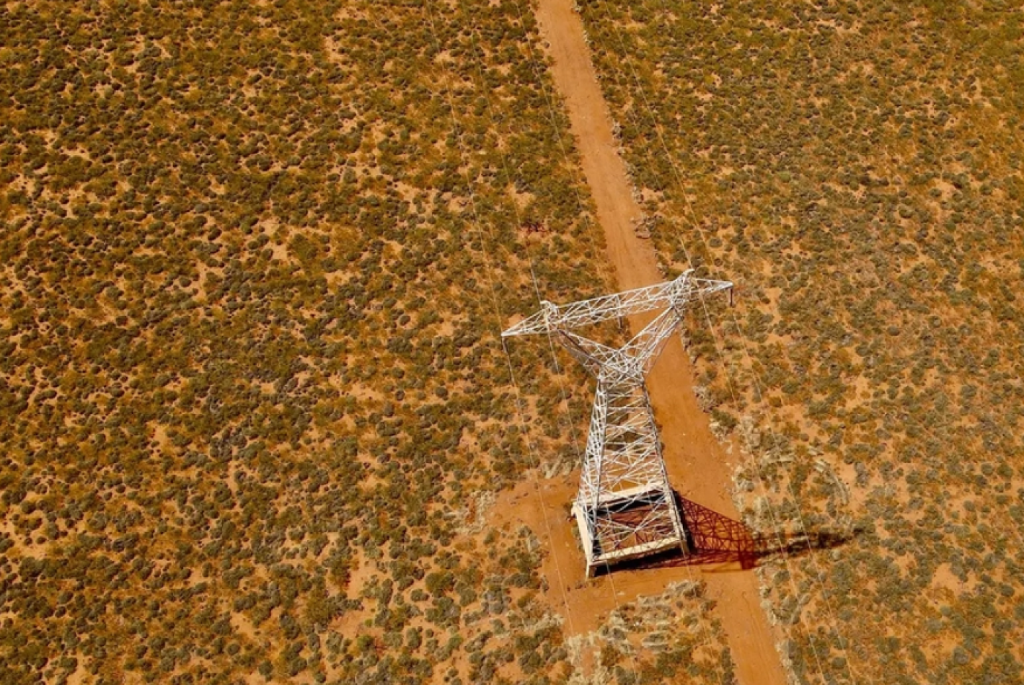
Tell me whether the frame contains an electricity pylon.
Yes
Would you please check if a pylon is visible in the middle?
Yes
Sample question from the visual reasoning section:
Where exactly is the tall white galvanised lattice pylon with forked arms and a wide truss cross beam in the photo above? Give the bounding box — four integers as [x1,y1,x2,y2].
[501,268,735,563]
